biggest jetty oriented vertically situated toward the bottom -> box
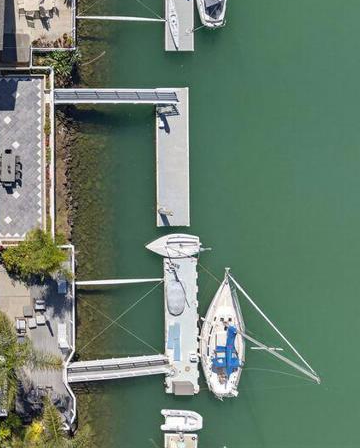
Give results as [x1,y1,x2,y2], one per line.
[164,258,198,394]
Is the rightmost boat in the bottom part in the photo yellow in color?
No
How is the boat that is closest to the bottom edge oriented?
horizontally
